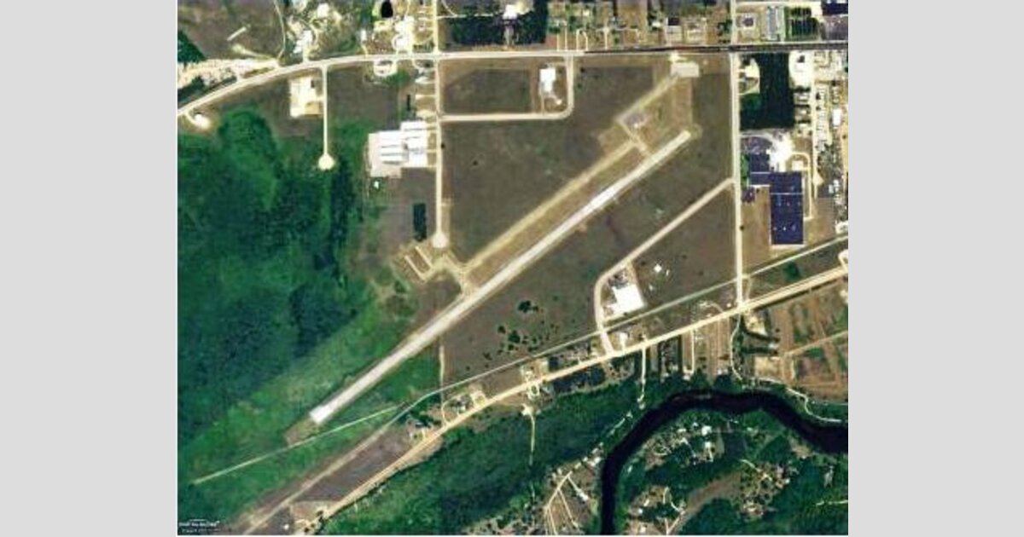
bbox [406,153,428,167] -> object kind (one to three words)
building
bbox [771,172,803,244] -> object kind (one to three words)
building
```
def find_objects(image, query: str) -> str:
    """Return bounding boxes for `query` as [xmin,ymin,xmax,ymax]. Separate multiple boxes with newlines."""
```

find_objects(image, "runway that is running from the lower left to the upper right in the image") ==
[310,131,691,424]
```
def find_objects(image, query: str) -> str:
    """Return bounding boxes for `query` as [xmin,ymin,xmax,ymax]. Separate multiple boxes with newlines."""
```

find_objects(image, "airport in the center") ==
[310,72,691,424]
